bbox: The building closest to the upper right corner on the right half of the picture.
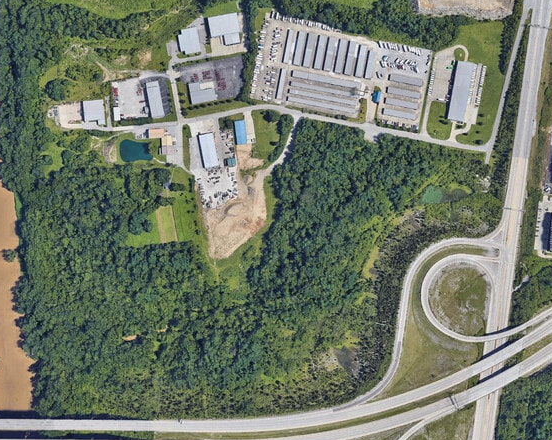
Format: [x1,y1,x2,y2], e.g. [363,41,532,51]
[448,62,477,121]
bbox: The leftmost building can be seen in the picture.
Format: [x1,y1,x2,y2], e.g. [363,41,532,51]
[84,100,105,125]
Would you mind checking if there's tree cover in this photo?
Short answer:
Yes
